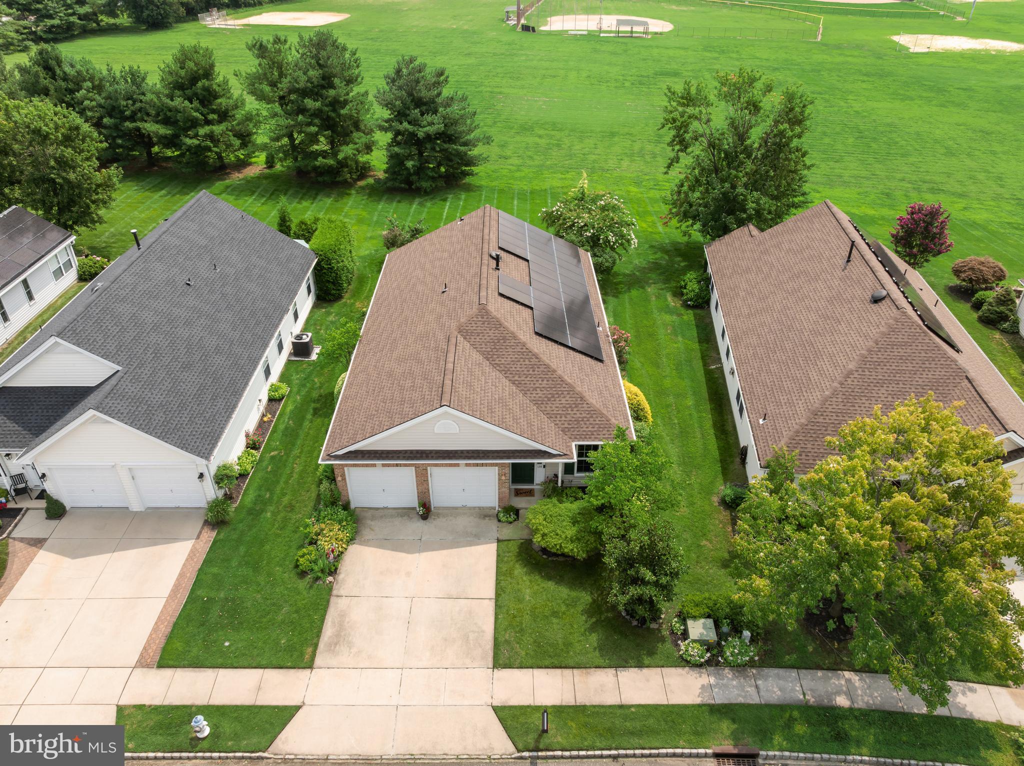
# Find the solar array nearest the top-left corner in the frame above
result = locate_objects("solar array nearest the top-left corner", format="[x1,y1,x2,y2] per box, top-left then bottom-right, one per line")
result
[0,209,72,291]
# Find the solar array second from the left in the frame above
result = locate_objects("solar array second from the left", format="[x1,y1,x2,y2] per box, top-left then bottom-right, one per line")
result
[499,210,602,360]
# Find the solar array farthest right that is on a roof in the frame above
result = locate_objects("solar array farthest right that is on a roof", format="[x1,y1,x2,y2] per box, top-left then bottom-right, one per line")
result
[848,218,959,350]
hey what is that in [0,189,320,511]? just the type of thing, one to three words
house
